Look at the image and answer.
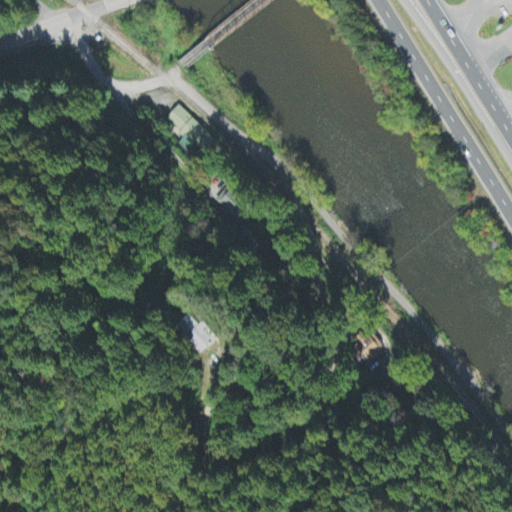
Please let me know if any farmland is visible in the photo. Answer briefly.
No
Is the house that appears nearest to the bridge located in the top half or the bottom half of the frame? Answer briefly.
top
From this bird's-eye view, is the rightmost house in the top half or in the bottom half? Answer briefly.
bottom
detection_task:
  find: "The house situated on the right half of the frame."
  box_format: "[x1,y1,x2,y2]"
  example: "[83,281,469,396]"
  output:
[352,330,383,358]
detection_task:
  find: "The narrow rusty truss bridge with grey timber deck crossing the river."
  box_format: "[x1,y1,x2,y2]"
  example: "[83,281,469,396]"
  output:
[179,0,280,70]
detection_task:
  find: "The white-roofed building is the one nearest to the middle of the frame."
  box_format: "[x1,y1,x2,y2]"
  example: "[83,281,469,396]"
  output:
[182,322,218,354]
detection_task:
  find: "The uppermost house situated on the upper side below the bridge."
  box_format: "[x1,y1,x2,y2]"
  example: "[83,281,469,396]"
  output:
[166,102,198,136]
